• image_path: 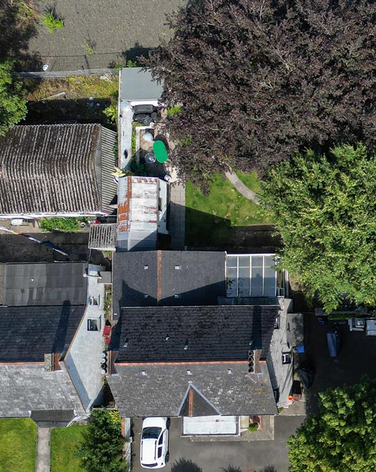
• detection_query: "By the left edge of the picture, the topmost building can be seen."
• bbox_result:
[0,123,117,219]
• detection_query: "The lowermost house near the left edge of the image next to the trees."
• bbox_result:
[0,290,108,432]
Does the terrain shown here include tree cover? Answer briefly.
Yes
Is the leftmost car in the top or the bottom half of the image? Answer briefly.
bottom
